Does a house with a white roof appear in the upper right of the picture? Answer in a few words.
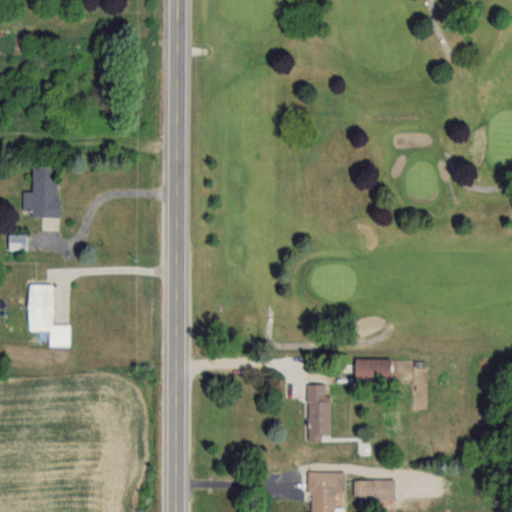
No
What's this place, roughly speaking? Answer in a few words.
golf course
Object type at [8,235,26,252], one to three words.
shed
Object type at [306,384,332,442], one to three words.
house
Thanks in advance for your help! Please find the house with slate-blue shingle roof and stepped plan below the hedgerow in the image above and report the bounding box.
[22,168,60,218]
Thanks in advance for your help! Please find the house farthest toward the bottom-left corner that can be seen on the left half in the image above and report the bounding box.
[28,284,72,350]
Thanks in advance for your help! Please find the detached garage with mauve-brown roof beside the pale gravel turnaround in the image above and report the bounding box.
[354,480,394,501]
